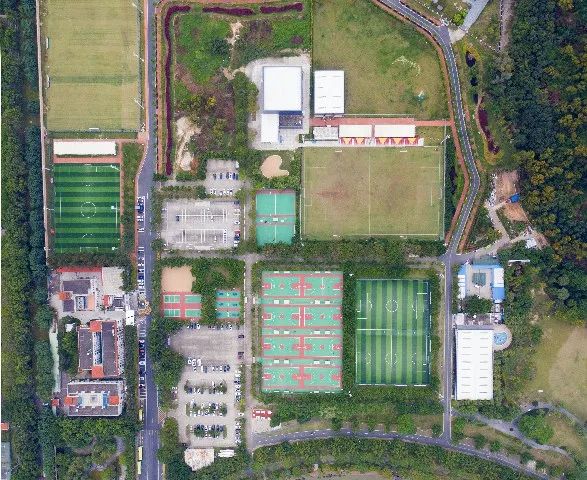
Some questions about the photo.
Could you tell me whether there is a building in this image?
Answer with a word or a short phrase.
Yes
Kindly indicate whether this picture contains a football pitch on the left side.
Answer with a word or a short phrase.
Yes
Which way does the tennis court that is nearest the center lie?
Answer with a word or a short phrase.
from left to right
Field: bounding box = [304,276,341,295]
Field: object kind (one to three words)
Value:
basketball court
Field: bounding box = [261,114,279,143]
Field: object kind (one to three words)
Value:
building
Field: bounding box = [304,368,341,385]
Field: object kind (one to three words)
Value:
basketball court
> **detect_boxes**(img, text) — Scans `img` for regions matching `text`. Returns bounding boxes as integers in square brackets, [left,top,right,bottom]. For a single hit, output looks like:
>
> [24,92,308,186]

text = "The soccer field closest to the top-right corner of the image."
[302,146,444,240]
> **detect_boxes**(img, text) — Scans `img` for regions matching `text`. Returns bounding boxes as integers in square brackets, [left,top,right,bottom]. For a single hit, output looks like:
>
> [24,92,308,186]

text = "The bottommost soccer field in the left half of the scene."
[54,163,120,253]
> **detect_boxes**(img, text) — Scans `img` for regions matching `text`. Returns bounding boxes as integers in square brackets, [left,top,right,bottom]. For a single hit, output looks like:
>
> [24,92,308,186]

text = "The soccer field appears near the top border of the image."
[48,0,137,131]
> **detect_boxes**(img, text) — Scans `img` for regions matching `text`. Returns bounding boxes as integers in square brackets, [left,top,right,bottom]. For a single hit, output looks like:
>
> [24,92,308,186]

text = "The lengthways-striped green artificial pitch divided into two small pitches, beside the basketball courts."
[355,280,431,386]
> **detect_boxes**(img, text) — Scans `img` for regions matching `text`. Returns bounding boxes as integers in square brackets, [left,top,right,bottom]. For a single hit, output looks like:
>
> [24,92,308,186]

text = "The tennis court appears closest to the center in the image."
[257,225,296,245]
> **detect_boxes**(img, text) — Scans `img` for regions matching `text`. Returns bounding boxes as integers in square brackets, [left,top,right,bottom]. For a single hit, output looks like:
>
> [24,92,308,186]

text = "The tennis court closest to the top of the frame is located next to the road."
[257,194,296,214]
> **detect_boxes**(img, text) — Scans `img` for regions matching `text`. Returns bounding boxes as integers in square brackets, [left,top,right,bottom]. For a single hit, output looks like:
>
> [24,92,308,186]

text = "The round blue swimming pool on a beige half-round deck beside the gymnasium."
[494,325,512,350]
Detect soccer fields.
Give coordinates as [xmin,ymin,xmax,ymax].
[355,280,431,386]
[302,146,444,240]
[54,163,120,253]
[48,0,137,131]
